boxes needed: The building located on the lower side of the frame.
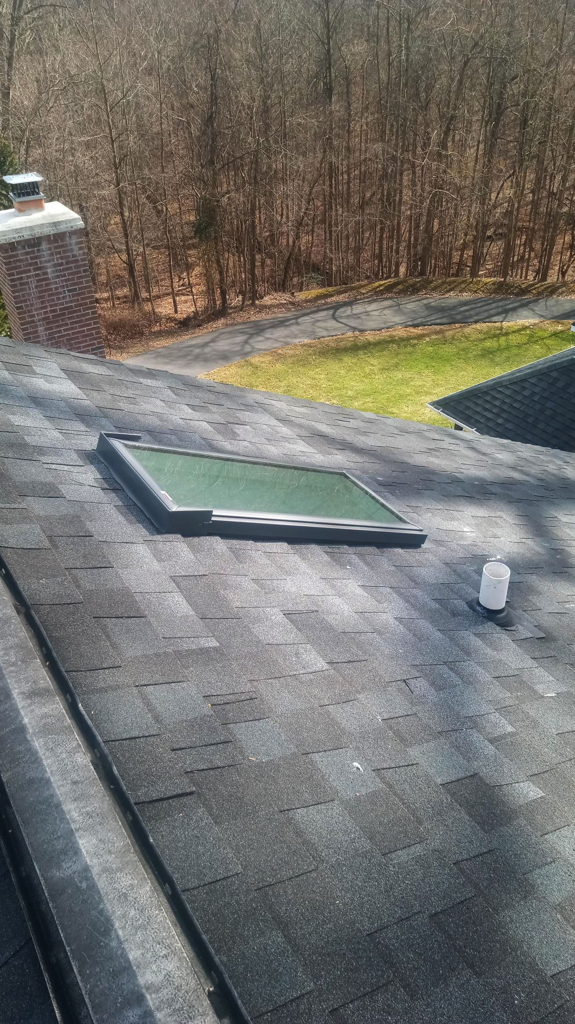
[0,335,575,1024]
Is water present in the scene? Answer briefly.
No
